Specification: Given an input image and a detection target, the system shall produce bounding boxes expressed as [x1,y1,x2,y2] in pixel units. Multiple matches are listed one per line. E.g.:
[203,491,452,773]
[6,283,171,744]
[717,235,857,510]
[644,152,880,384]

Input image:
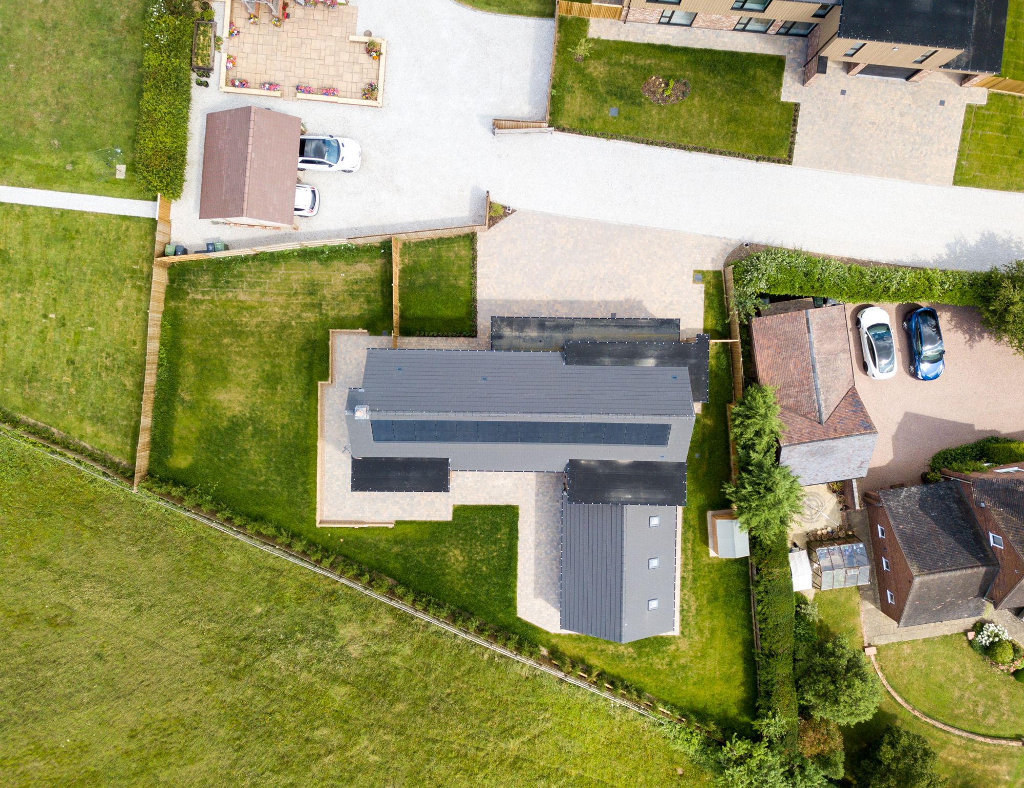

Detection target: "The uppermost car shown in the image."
[298,134,363,173]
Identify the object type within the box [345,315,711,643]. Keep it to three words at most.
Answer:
house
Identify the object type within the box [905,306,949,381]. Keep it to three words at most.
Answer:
car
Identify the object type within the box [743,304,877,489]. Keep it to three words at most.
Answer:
building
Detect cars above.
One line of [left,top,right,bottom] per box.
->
[294,185,323,218]
[298,134,363,173]
[856,306,895,381]
[905,306,949,381]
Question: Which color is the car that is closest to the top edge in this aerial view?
white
